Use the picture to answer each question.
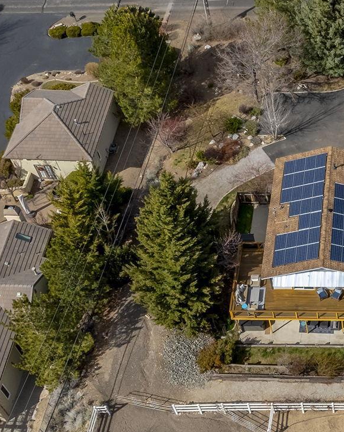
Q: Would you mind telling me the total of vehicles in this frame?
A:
none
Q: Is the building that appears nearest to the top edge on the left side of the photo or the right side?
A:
left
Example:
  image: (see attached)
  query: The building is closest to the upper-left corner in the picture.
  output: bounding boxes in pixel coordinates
[0,76,121,174]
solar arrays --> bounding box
[268,153,323,270]
[331,183,344,265]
